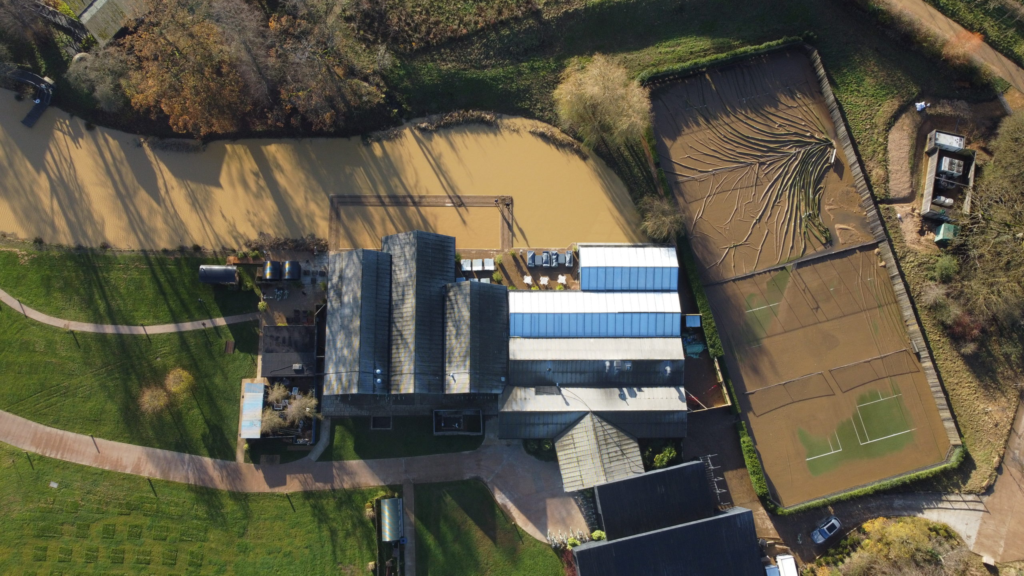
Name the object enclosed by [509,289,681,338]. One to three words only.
greenhouse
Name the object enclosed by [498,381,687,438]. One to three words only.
building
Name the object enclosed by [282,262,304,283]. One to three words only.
shed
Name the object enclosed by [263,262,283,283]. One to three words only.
shed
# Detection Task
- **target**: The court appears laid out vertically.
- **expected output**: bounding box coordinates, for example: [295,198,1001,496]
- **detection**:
[643,47,951,505]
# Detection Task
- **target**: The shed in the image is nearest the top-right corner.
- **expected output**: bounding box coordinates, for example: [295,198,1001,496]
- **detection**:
[930,223,954,244]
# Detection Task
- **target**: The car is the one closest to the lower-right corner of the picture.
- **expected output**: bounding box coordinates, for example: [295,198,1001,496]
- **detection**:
[810,516,842,544]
